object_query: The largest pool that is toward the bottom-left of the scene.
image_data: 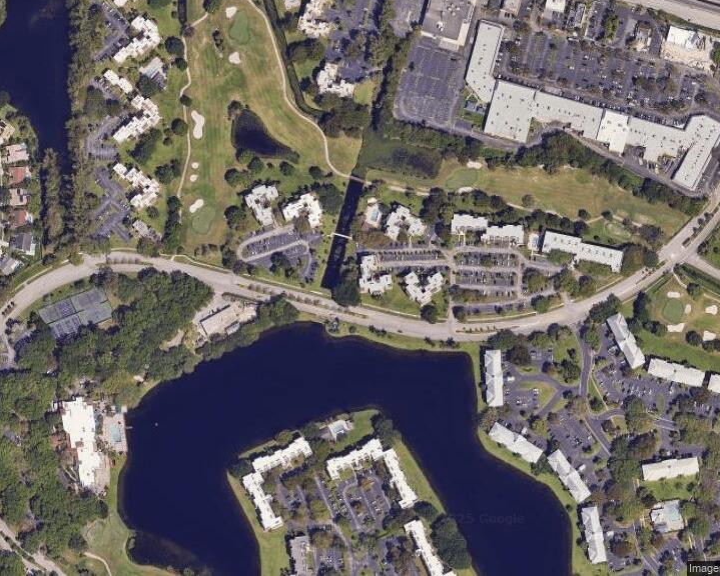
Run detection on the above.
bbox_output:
[106,416,125,448]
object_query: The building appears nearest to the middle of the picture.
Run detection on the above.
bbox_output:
[359,255,391,291]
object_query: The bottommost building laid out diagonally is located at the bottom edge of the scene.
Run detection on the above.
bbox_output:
[404,519,449,576]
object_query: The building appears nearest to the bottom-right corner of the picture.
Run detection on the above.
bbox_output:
[651,502,676,533]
